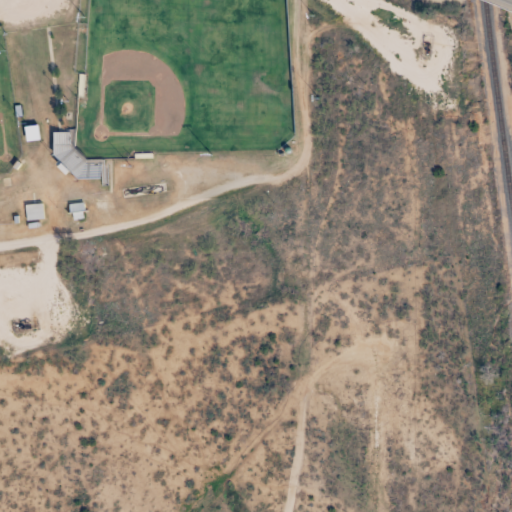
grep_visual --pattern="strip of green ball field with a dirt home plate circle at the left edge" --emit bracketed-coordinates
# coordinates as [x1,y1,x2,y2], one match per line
[0,27,20,176]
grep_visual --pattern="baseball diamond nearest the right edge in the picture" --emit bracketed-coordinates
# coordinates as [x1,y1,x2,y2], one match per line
[76,0,294,158]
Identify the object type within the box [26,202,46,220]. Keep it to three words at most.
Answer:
barn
